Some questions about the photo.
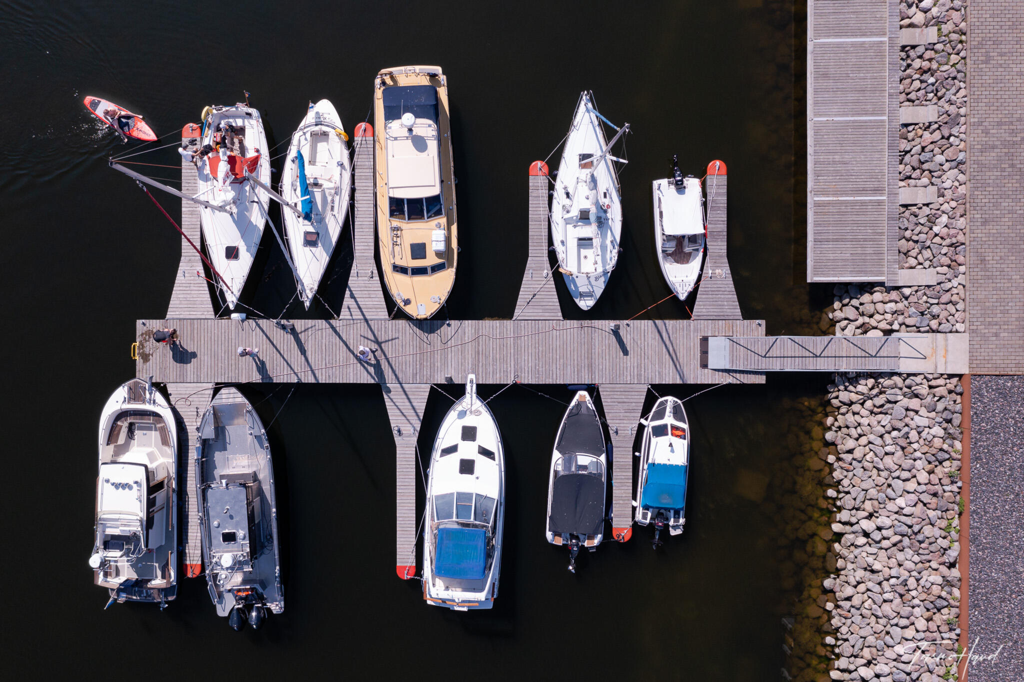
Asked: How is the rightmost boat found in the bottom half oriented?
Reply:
up and down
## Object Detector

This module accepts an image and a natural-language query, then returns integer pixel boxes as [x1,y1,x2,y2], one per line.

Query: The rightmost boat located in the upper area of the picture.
[652,151,706,302]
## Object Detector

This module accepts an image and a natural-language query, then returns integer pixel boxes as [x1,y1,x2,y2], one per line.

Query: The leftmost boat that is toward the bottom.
[88,376,184,611]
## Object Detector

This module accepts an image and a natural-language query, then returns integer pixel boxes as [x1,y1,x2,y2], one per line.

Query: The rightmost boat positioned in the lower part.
[631,395,691,554]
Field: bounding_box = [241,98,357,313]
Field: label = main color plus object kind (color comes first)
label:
white boat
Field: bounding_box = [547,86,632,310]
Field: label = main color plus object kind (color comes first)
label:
white boat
